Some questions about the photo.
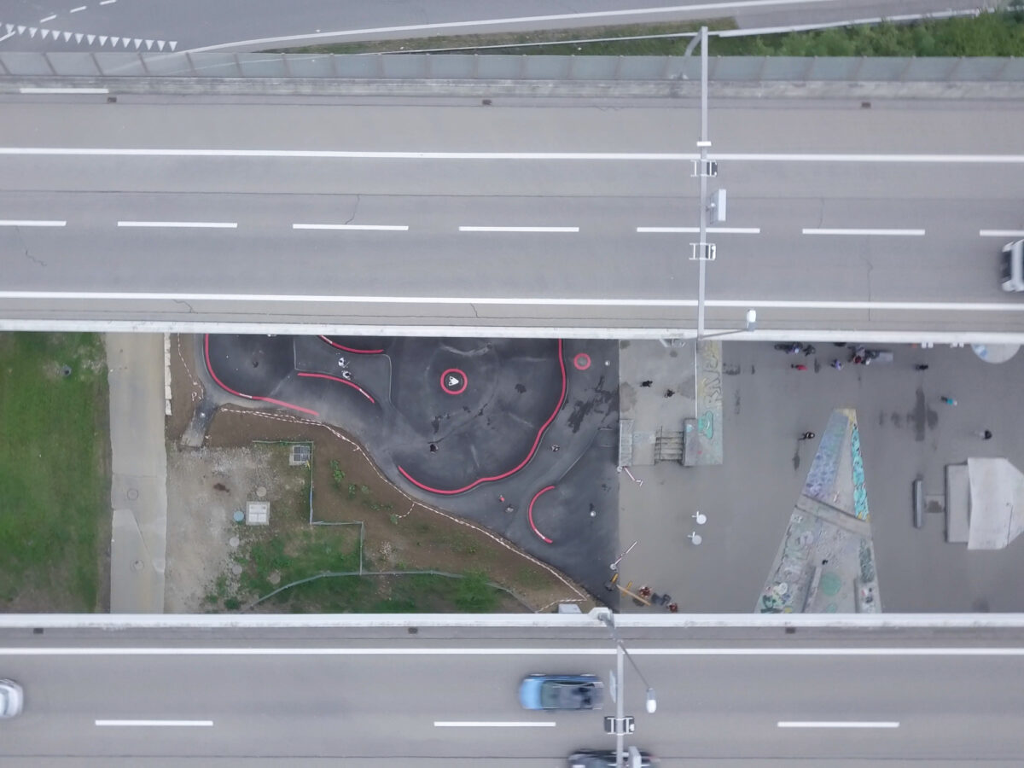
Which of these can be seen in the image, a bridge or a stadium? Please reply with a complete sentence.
I can see a bridge in this picture.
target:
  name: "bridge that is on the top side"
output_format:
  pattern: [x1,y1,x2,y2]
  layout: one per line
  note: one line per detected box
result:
[0,77,1024,343]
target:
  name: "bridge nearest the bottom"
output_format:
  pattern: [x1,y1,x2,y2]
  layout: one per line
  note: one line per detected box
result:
[0,613,1024,768]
